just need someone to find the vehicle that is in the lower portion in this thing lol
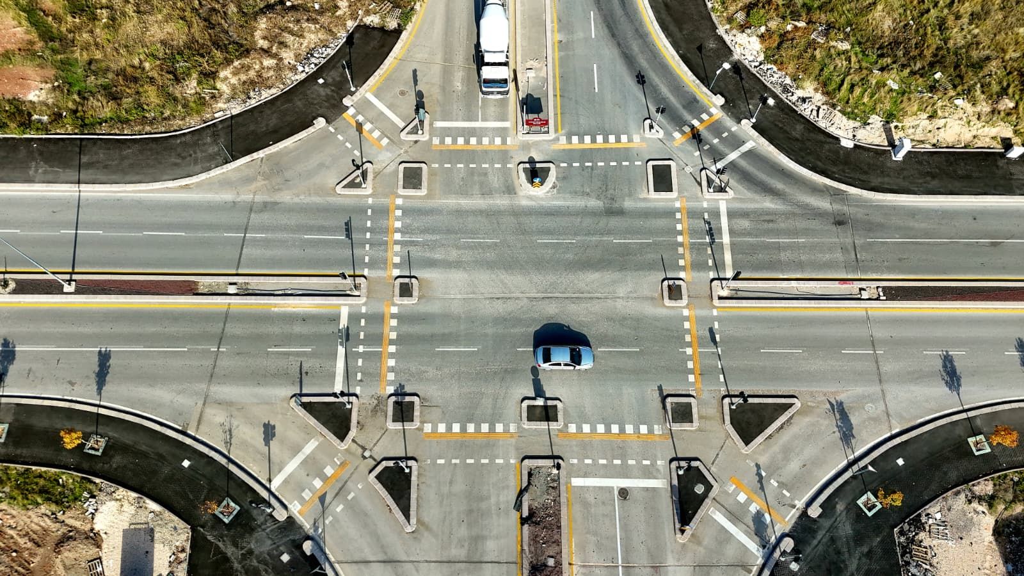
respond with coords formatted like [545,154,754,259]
[534,344,594,372]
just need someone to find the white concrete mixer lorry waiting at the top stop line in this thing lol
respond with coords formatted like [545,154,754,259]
[477,0,512,98]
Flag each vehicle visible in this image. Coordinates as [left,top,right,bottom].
[534,344,594,372]
[477,0,512,98]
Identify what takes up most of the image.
paved ground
